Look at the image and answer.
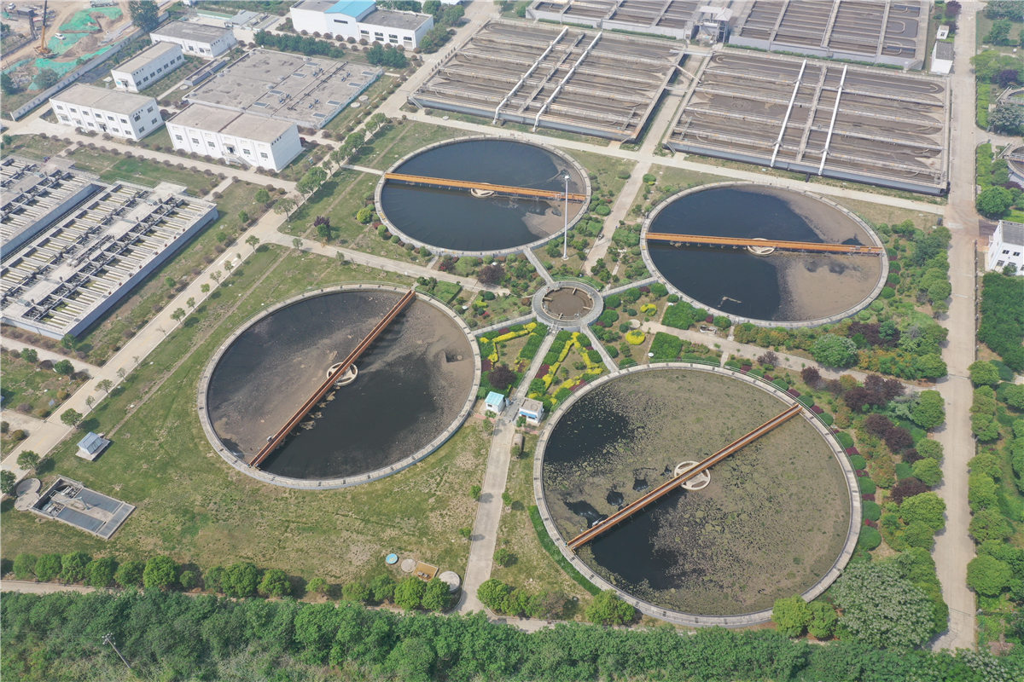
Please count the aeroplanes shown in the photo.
0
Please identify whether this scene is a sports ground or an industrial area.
industrial area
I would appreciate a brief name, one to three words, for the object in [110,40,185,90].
building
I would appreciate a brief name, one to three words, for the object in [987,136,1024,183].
storage tank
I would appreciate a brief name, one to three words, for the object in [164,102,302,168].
building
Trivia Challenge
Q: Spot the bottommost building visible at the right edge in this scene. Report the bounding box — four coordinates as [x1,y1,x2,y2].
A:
[980,219,1024,275]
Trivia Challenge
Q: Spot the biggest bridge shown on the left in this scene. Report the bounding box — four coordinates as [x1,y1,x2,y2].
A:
[245,289,419,471]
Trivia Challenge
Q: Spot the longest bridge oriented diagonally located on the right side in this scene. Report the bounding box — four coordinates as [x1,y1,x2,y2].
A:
[563,403,808,555]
